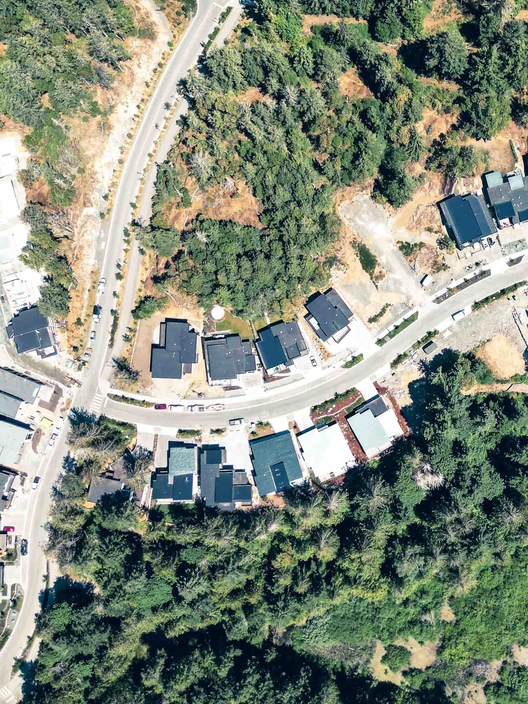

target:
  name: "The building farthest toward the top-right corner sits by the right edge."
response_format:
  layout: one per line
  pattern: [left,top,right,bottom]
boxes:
[485,172,528,224]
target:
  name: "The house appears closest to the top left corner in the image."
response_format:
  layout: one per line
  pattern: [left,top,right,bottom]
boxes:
[7,308,58,359]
